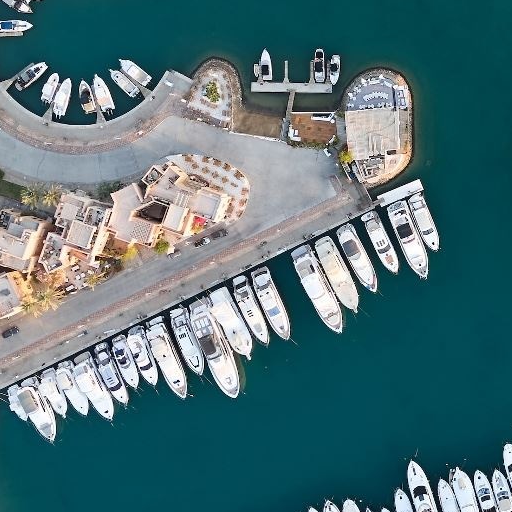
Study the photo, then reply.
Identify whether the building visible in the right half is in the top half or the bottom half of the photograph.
top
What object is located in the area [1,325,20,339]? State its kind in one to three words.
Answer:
car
